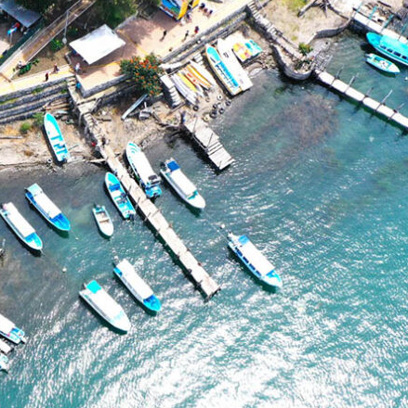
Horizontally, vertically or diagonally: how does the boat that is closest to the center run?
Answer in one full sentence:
In this picture, the boat that is closest to the center is oriented diagonally.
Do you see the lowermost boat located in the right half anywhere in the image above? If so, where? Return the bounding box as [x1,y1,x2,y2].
[223,230,282,288]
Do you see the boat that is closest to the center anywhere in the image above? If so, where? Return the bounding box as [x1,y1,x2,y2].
[157,155,205,209]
